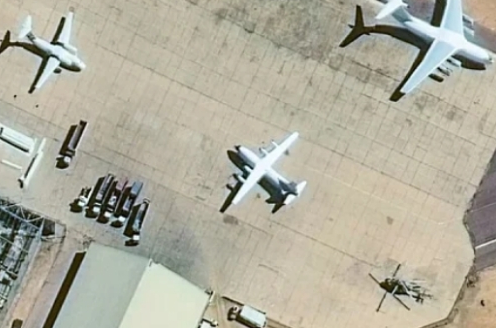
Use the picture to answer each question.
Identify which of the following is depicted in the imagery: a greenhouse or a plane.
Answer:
plane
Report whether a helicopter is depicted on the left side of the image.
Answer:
No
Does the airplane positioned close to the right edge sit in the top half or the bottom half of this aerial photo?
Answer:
top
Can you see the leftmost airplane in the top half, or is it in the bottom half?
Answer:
top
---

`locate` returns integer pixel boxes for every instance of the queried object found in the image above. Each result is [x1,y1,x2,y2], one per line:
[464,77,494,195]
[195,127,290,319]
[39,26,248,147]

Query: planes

[376,0,493,90]
[230,129,307,208]
[18,12,84,89]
